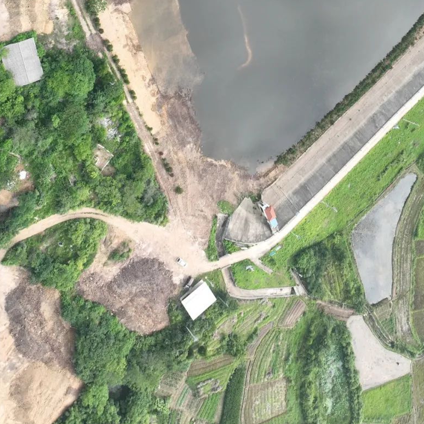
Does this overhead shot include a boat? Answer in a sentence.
No, there isn't any boat down there.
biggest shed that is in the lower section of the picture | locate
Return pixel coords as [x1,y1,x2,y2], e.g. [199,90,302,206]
[179,276,216,320]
